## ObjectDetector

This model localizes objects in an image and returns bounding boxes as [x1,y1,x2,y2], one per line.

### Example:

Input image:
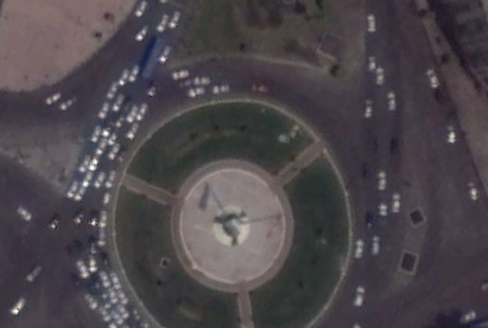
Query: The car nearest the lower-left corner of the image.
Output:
[12,299,25,313]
